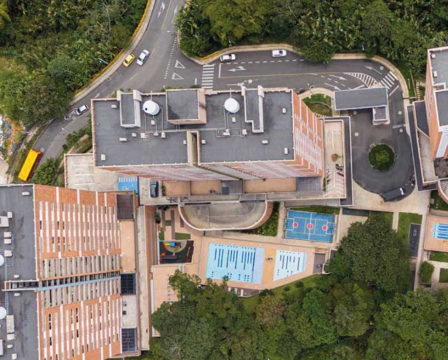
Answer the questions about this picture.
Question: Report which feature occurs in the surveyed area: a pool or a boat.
pool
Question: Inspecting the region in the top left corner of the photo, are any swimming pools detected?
No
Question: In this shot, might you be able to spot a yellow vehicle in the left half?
Yes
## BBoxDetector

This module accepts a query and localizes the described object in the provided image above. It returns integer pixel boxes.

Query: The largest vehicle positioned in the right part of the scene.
[381,189,405,202]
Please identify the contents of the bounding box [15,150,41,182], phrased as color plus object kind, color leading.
yellow bus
